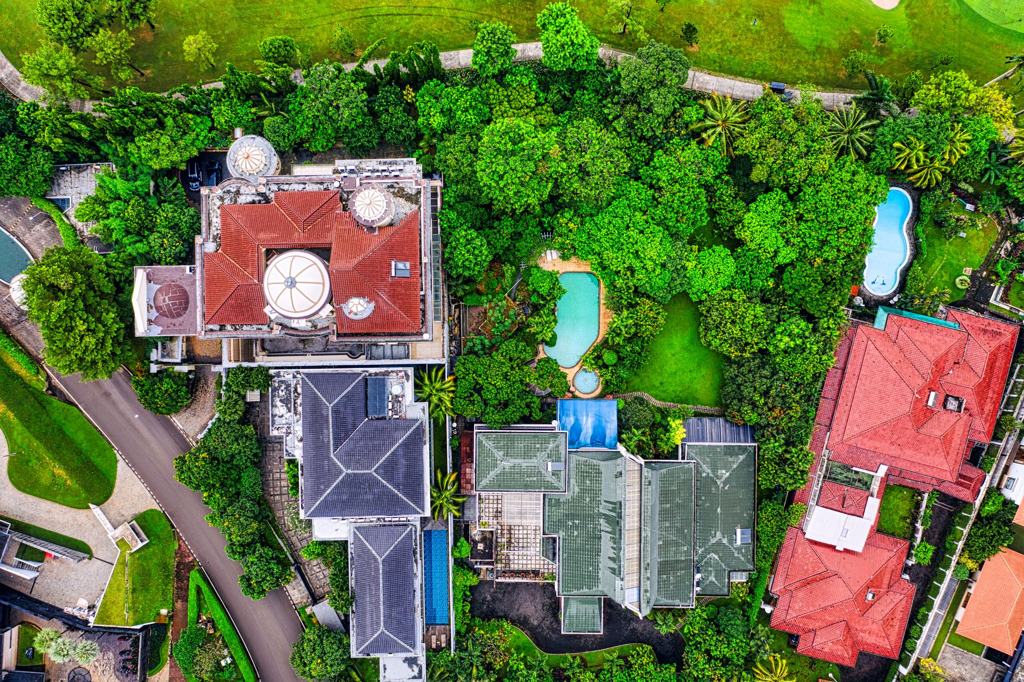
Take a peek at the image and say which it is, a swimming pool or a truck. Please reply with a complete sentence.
I can see a swimming pool in this picture.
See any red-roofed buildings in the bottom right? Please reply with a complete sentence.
Yes, a red-roofed building shows up in the bottom right.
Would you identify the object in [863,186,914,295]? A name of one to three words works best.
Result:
swimming pool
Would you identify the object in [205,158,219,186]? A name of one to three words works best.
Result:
car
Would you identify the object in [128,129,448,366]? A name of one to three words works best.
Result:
house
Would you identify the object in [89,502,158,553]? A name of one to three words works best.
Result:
building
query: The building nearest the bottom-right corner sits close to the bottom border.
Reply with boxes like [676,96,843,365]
[951,552,1024,657]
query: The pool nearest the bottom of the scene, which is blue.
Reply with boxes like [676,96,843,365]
[425,529,449,626]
